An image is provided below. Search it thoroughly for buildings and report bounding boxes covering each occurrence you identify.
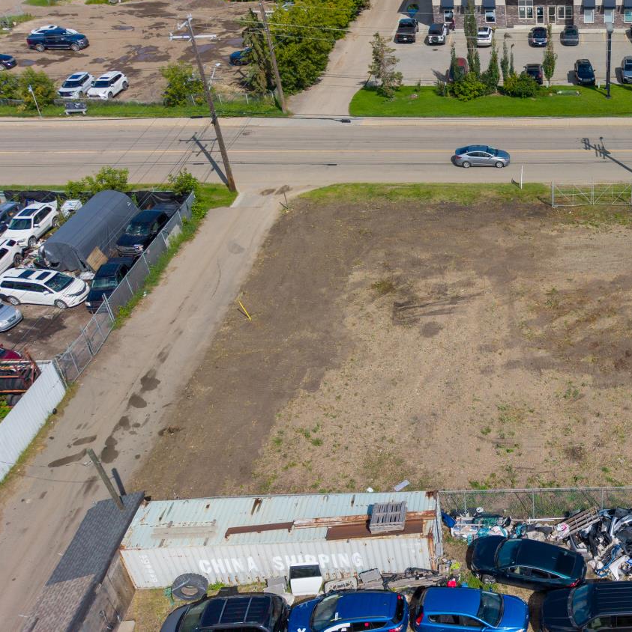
[20,492,149,632]
[427,0,632,29]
